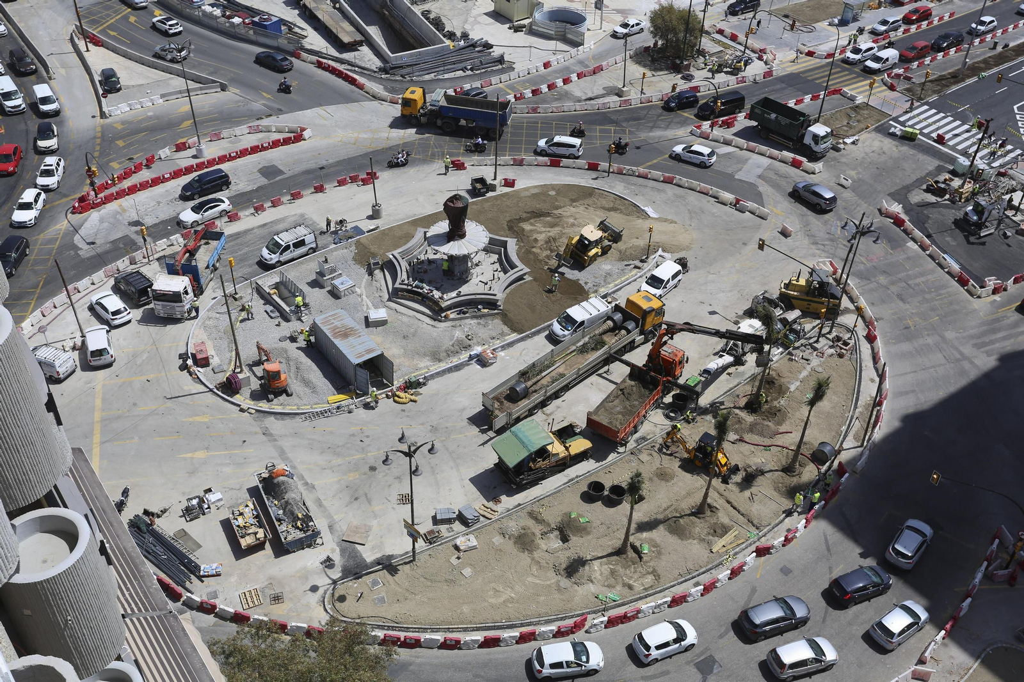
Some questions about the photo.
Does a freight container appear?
Yes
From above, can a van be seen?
Yes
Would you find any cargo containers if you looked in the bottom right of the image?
No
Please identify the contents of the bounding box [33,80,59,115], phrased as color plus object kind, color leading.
white vehicle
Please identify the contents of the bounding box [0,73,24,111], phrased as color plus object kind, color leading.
white vehicle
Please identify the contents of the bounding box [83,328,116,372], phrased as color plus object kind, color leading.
white van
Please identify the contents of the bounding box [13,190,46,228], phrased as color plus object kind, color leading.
white car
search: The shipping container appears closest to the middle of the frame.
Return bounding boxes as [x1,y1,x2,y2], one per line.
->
[310,306,390,390]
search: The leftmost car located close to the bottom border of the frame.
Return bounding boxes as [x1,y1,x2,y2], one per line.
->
[532,642,601,682]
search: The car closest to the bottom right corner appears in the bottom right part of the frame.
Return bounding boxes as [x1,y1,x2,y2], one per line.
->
[866,602,929,656]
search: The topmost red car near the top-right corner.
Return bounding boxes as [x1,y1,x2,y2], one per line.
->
[901,5,933,25]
